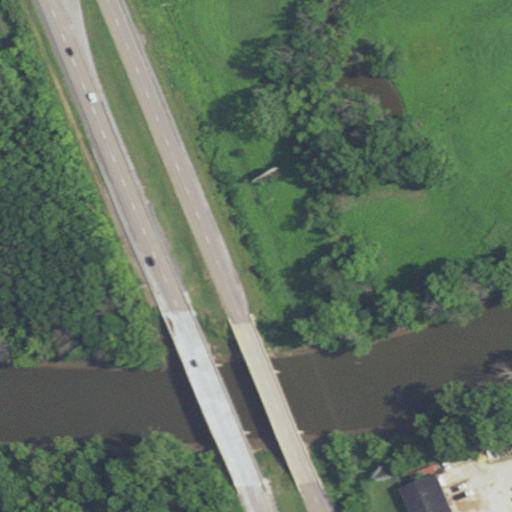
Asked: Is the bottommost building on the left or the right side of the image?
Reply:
right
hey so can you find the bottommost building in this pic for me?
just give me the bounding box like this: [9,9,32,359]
[398,474,450,512]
